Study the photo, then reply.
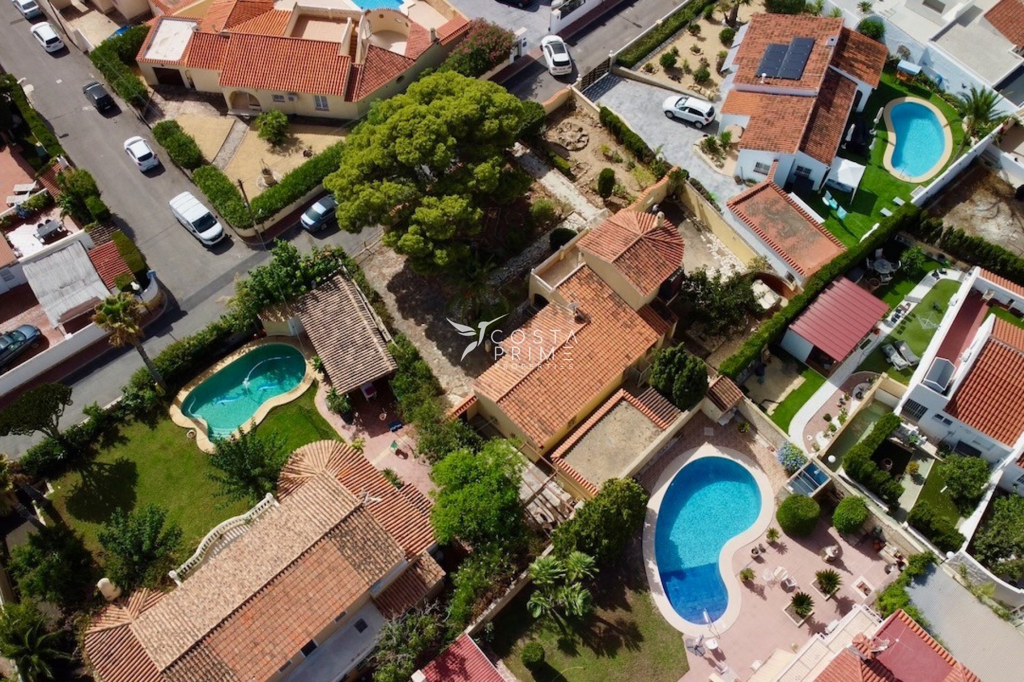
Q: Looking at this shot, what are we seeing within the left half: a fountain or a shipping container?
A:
fountain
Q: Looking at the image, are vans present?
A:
Yes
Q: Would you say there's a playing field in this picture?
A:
No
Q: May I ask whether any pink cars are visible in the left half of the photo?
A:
No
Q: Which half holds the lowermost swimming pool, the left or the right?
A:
right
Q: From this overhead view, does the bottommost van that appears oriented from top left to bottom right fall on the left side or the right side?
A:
left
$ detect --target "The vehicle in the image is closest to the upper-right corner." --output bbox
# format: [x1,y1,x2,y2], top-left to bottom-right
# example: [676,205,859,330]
[655,91,723,131]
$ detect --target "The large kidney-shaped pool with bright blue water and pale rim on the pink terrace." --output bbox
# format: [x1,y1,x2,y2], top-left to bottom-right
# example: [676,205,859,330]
[641,444,776,639]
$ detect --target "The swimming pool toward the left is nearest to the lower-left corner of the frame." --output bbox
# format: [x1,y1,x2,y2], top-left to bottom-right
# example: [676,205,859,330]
[172,336,316,452]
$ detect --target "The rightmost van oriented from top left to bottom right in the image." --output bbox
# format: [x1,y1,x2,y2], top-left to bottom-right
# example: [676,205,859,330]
[164,181,224,247]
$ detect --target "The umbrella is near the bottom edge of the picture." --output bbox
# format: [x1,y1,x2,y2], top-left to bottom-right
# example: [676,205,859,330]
[685,632,709,658]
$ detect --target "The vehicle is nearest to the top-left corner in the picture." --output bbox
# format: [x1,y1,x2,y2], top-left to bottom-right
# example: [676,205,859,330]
[4,0,45,27]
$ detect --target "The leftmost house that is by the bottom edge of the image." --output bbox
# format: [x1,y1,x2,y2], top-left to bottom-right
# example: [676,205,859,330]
[83,438,446,682]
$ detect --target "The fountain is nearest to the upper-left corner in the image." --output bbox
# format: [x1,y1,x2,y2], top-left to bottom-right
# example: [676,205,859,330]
[251,164,286,193]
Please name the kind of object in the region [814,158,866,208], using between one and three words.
gazebo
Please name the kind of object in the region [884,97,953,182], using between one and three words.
swimming pool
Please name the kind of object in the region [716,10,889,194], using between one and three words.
house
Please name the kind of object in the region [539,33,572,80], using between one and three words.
car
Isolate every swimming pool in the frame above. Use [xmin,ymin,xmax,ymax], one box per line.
[172,336,316,452]
[346,0,410,12]
[884,97,953,182]
[641,444,776,639]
